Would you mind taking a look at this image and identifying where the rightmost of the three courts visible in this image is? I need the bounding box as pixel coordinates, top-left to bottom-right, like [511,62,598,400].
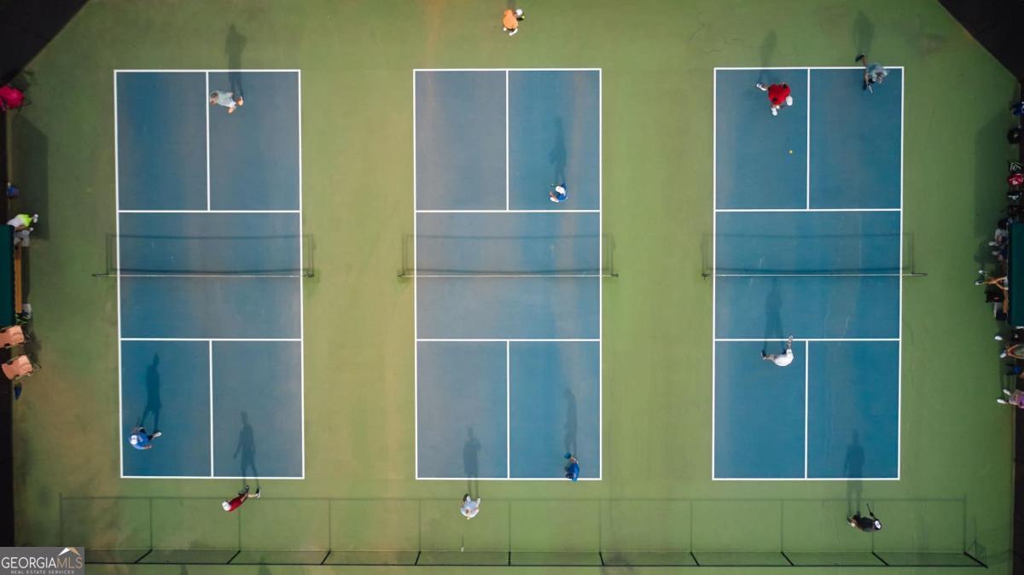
[712,66,904,480]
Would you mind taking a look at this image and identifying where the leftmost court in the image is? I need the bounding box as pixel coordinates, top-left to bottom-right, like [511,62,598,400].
[114,69,304,479]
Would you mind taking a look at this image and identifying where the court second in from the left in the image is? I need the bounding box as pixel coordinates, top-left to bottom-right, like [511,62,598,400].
[413,68,602,480]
